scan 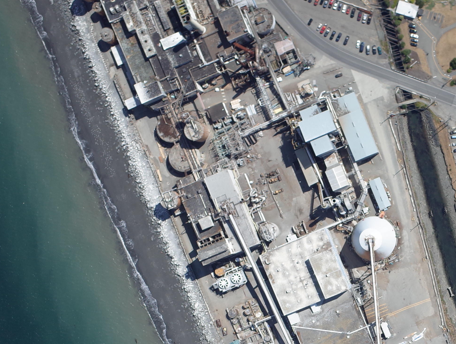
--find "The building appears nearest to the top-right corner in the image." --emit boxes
[395,0,424,19]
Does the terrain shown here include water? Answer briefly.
Yes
